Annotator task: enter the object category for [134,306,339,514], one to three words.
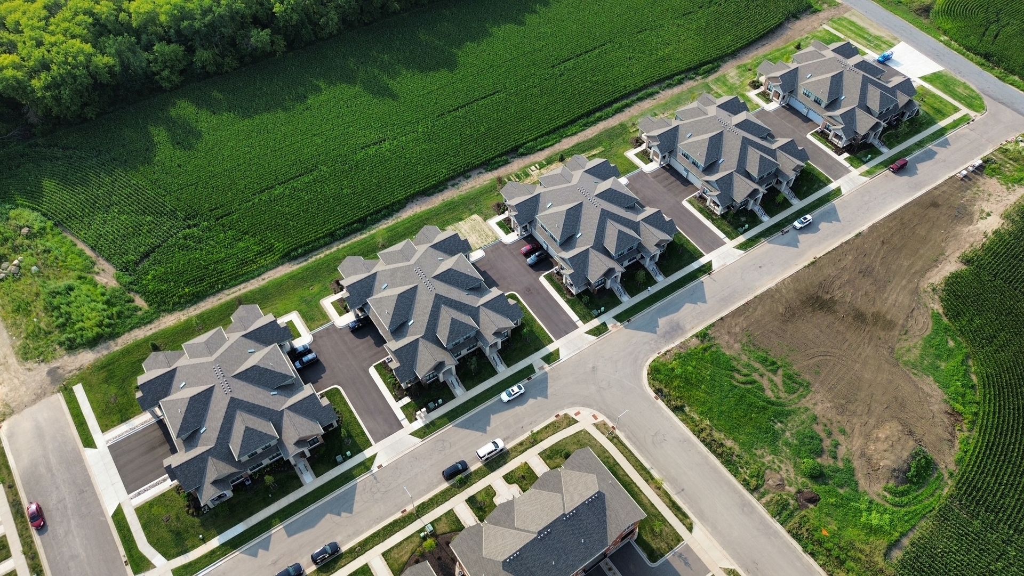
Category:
house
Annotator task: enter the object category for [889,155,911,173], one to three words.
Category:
car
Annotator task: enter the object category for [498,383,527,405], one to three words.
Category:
car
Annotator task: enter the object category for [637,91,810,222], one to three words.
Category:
house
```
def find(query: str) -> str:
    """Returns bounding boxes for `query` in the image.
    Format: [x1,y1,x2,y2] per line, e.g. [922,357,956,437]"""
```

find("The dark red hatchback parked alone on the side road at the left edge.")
[28,501,46,531]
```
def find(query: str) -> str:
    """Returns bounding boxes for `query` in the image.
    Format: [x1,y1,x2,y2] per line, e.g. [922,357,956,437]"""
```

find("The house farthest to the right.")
[756,38,926,153]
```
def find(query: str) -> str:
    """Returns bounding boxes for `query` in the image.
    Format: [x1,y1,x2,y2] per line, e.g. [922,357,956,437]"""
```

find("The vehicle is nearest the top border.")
[874,45,898,64]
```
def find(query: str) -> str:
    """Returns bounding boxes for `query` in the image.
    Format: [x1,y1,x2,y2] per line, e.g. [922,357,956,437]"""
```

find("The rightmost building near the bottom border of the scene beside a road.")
[447,444,649,576]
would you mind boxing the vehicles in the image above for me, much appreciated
[28,501,46,531]
[308,539,343,568]
[516,240,541,258]
[498,383,527,405]
[874,45,898,64]
[346,314,369,332]
[293,350,320,371]
[889,155,911,173]
[523,250,548,267]
[439,458,470,483]
[289,342,316,358]
[792,212,814,230]
[473,438,506,463]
